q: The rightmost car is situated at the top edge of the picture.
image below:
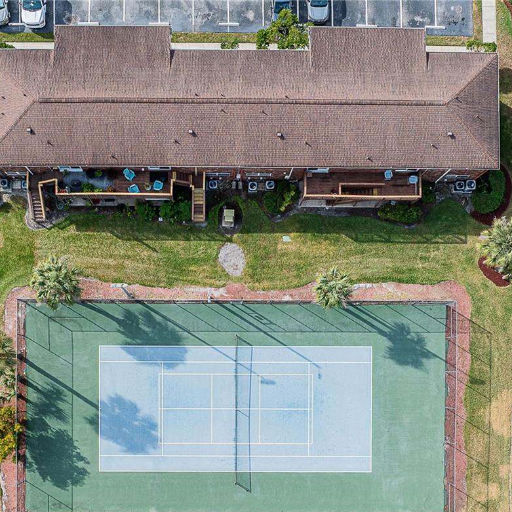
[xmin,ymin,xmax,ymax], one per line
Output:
[305,0,333,26]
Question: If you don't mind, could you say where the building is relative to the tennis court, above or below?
above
